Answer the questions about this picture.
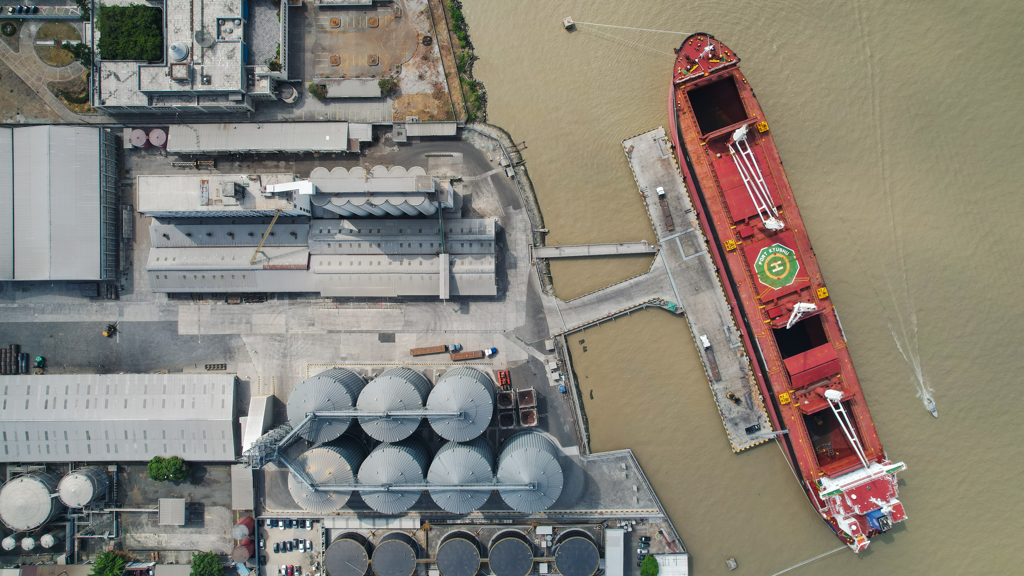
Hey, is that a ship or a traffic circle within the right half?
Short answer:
ship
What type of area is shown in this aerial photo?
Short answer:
industrial area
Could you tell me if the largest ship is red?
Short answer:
Yes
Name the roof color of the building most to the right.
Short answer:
white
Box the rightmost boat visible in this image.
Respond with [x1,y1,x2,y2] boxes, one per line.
[926,398,938,418]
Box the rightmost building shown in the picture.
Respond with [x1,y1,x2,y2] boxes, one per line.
[651,548,688,576]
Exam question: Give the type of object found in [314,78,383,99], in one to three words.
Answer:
shed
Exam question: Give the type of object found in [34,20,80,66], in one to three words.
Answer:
roundabout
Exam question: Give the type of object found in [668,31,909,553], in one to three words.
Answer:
ship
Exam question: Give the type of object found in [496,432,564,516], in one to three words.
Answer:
silo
